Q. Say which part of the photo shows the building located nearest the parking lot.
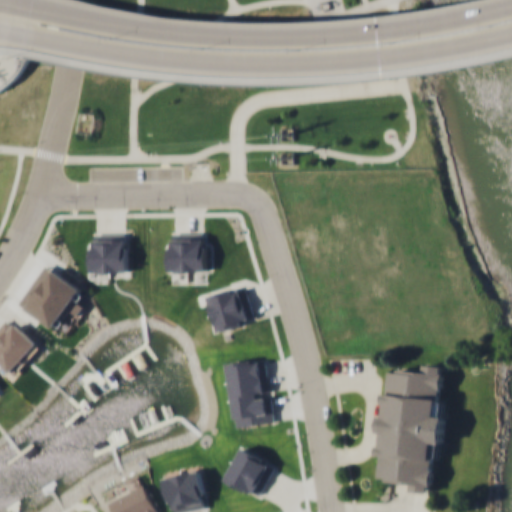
bottom right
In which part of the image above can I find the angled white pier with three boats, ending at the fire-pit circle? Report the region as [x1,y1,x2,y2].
[130,409,204,438]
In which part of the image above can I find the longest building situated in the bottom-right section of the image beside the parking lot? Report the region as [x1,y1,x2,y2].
[374,367,450,498]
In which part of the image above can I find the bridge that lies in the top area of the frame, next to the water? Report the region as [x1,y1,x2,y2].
[0,0,512,85]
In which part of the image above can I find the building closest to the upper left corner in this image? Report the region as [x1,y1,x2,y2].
[86,234,130,273]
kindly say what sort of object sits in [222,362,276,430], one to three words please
house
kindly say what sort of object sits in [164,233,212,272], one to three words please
house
